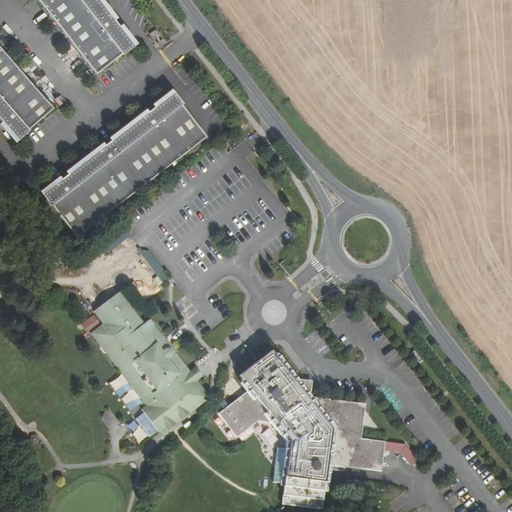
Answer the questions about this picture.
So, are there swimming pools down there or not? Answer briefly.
No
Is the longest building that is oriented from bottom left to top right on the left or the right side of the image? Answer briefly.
left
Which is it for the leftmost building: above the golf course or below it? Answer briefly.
above it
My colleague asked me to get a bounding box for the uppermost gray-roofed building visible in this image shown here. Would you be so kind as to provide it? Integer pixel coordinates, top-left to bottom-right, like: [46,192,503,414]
[39,0,140,74]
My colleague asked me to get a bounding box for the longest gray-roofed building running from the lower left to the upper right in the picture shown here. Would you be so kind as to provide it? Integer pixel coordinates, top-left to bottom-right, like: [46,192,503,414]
[41,89,208,236]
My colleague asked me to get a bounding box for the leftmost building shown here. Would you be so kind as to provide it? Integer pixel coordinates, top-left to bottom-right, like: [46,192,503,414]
[0,46,55,142]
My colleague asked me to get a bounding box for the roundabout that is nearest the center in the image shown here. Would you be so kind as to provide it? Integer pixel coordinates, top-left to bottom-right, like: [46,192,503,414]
[252,290,296,334]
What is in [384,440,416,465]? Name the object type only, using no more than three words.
shed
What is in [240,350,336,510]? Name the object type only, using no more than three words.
building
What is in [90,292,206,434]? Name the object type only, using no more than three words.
building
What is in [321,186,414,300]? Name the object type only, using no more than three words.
roundabout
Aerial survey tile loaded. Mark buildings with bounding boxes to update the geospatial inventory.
[384,440,416,465]
[240,350,336,510]
[138,248,168,282]
[41,89,208,236]
[39,0,140,74]
[90,292,206,434]
[0,46,55,142]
